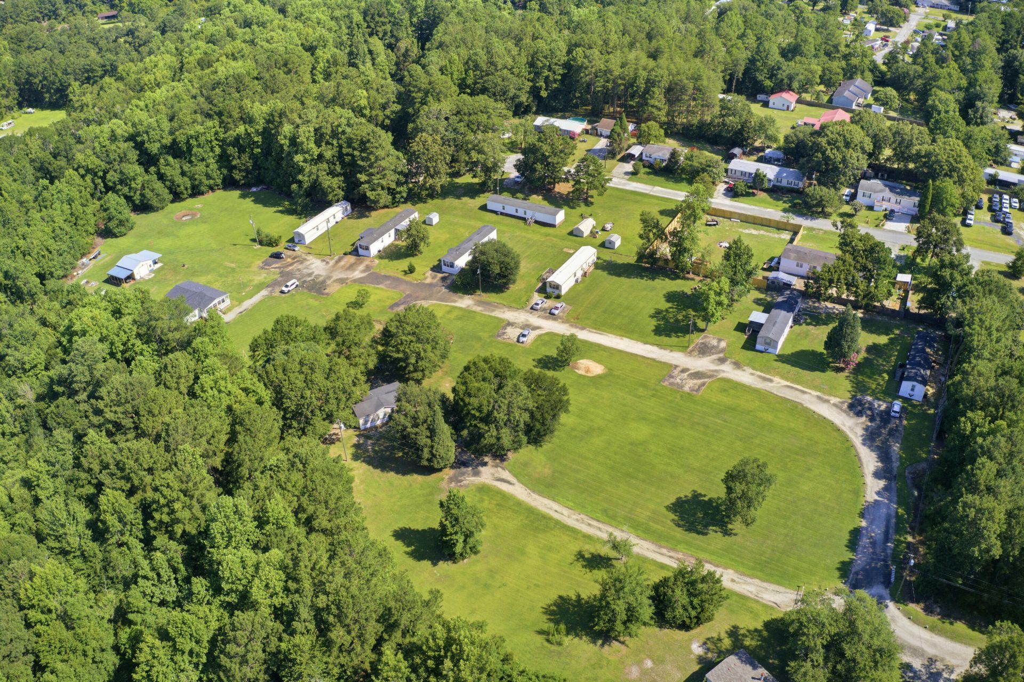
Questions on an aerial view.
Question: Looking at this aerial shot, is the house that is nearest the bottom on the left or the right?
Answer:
right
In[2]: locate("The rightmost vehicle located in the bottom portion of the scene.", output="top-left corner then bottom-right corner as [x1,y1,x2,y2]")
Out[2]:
[890,401,903,418]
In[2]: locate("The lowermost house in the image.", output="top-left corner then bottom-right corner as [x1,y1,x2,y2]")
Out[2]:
[704,650,775,682]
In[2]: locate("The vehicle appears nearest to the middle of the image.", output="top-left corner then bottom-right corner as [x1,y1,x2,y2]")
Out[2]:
[519,329,532,343]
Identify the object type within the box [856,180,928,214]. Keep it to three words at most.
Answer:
house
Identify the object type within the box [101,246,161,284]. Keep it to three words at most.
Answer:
building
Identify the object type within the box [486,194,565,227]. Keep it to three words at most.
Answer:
house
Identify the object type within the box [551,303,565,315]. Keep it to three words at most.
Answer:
vehicle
